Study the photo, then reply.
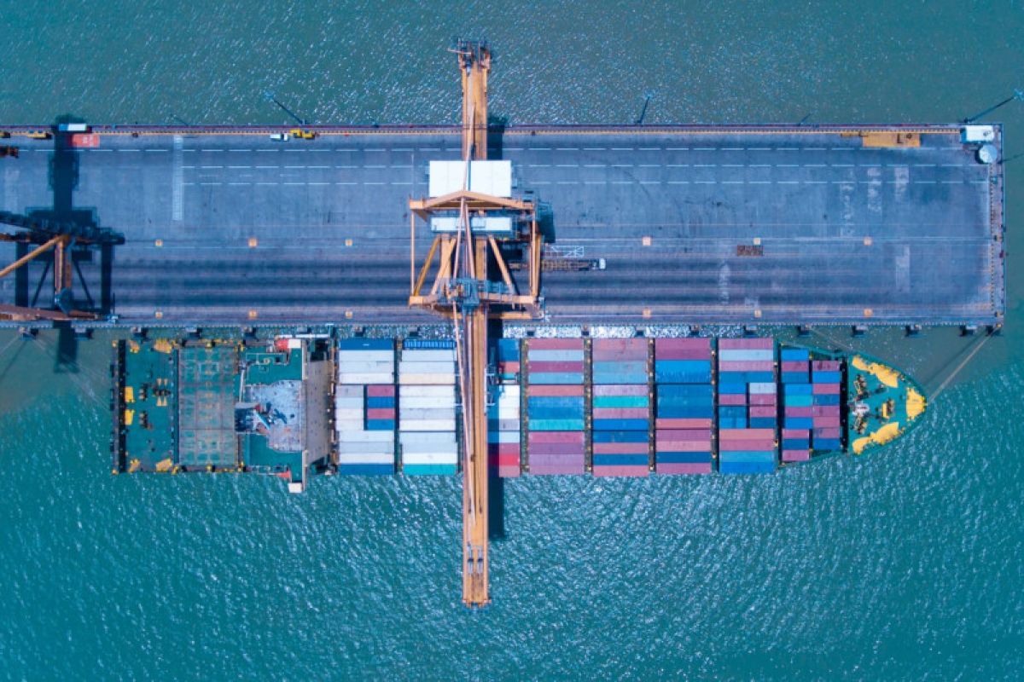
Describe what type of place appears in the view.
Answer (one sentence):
This image shows a port.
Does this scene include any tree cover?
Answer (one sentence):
No, no tree cover is visible.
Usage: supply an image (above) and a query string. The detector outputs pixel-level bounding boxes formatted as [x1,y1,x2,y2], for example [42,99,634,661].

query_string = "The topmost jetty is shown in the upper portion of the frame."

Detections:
[0,124,1005,333]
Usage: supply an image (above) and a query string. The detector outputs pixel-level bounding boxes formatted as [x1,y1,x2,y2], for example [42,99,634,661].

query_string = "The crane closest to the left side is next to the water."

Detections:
[0,201,124,321]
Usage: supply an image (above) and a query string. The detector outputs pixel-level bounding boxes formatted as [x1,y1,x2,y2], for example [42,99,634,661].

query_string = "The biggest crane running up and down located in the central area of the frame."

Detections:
[410,31,556,610]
